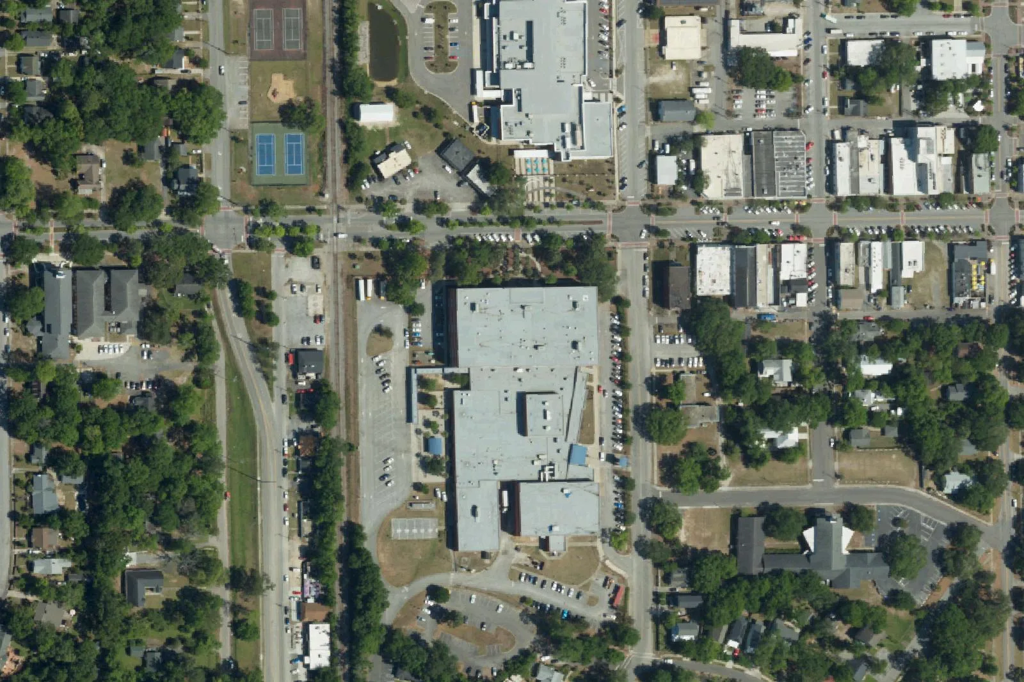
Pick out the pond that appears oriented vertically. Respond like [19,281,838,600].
[369,3,399,80]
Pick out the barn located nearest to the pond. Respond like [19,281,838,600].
[358,103,396,122]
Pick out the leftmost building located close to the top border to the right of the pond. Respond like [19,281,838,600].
[474,0,613,161]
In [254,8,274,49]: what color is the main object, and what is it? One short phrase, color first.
gray tennis court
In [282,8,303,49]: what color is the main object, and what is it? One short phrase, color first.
gray tennis court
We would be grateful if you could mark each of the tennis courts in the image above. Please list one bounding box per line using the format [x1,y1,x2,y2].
[254,8,274,49]
[285,133,304,174]
[256,133,276,174]
[282,8,303,49]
